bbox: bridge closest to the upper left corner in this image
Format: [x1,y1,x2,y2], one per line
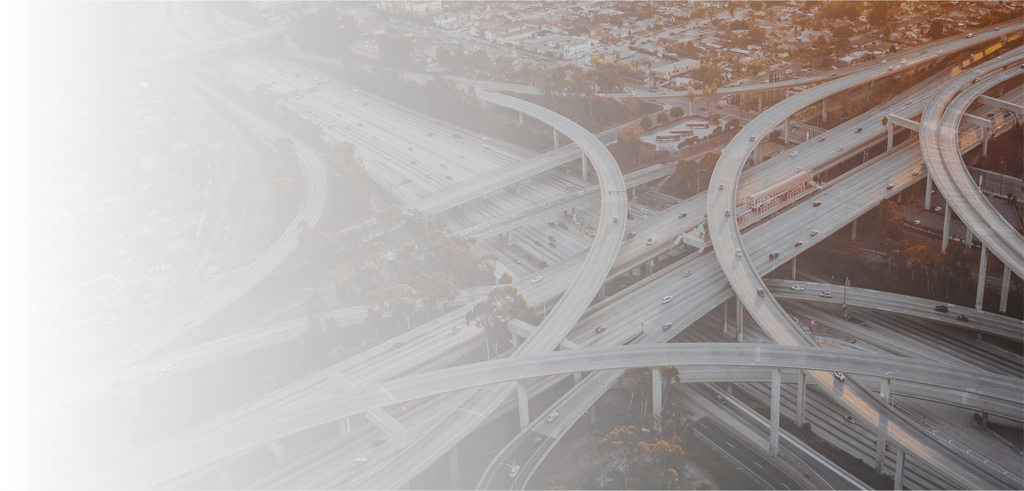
[0,23,310,103]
